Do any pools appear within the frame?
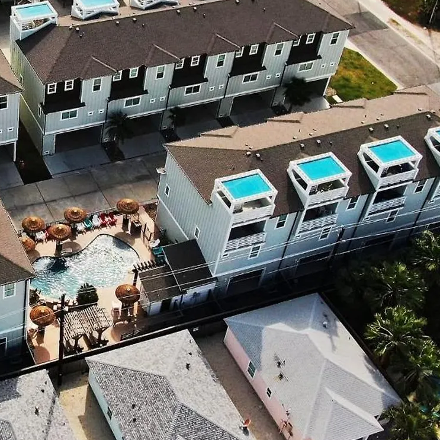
Yes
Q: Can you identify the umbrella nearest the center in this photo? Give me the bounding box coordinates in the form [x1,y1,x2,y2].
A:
[114,202,140,227]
